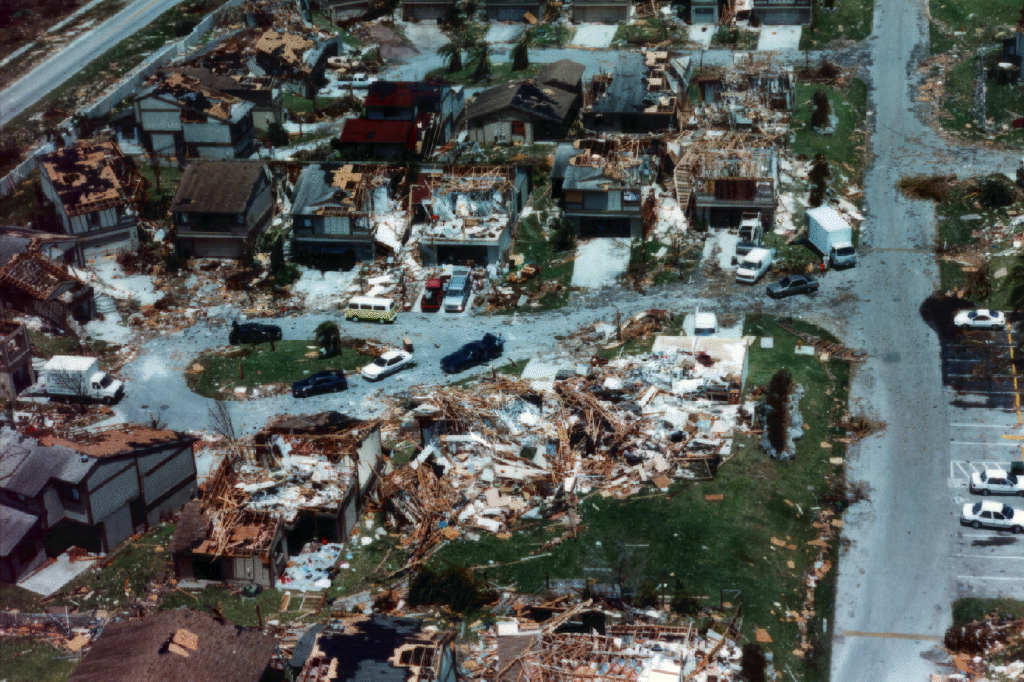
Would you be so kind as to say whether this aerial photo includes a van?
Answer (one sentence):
Yes, the image includes a van.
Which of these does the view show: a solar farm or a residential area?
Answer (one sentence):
This looks like a residential area.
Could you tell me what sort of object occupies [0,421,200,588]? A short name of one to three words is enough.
house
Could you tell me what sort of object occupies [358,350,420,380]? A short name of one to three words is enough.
car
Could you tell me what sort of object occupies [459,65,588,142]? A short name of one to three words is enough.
house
